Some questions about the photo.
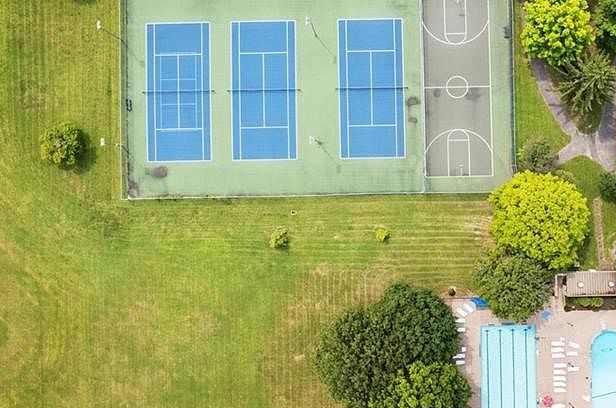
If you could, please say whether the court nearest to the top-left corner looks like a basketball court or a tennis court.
tennis court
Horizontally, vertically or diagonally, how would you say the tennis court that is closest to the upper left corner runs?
vertically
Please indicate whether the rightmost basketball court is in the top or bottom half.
top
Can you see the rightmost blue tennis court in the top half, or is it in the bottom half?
top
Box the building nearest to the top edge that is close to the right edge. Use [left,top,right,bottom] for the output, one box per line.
[563,269,616,296]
